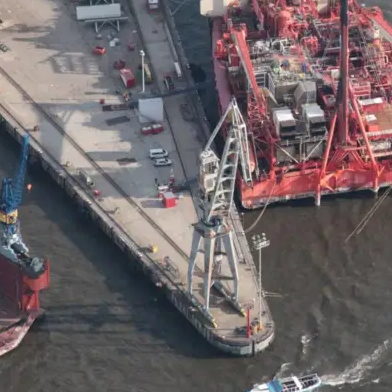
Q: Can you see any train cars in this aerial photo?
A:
No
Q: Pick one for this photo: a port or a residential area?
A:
port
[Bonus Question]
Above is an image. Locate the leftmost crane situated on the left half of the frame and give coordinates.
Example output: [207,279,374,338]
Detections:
[0,137,40,271]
